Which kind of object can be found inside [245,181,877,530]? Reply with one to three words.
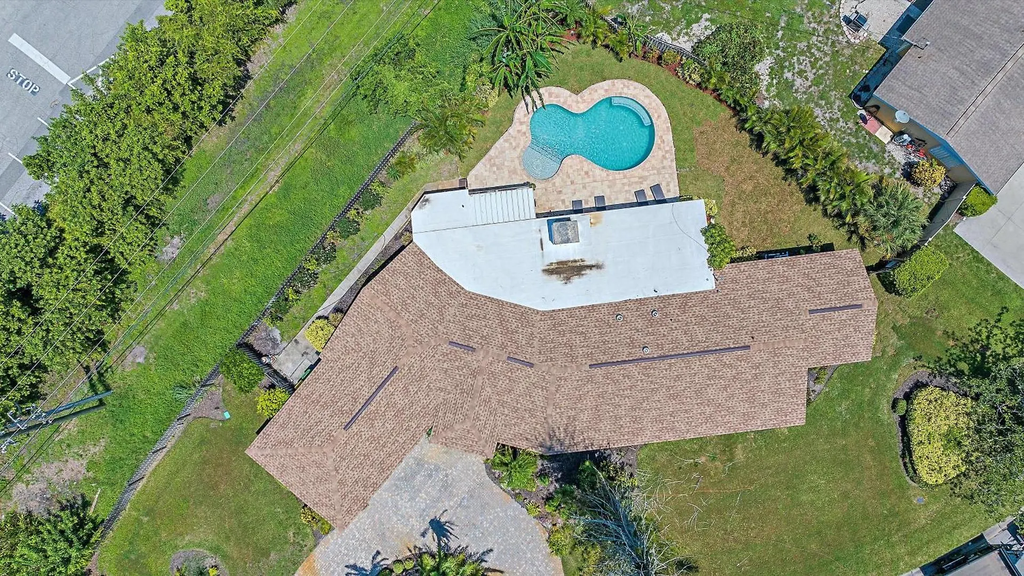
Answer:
house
